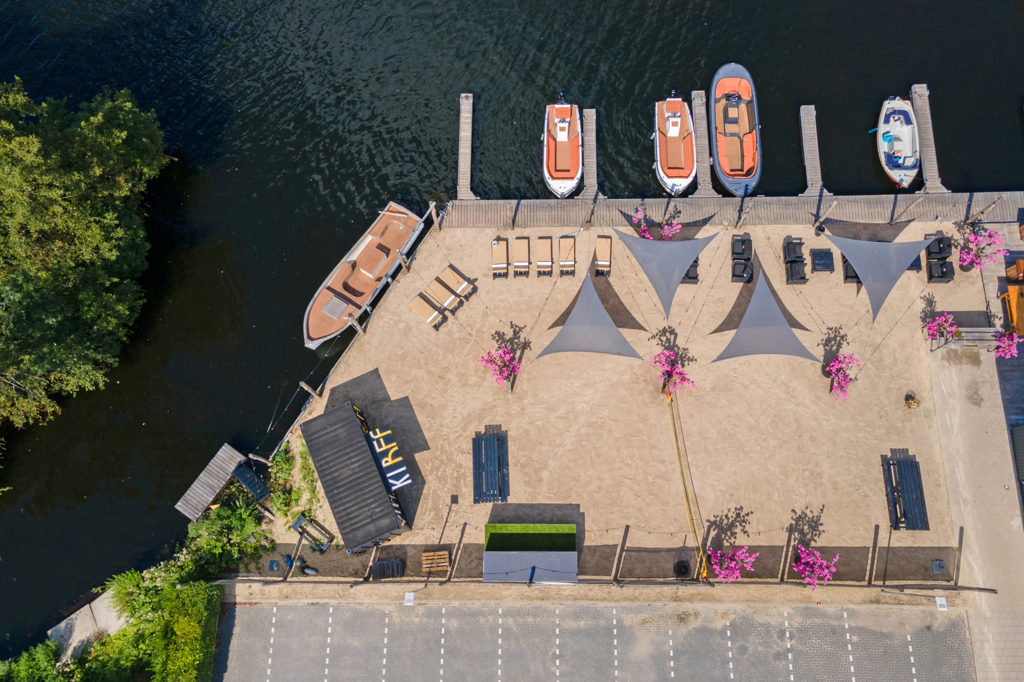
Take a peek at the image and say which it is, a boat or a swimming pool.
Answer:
boat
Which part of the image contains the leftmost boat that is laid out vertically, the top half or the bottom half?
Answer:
top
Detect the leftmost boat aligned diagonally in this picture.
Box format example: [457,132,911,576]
[302,201,423,349]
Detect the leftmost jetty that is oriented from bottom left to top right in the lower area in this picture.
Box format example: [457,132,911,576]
[176,444,248,522]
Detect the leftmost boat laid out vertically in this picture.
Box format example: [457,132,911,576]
[541,96,584,199]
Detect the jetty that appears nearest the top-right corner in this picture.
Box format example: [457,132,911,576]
[905,83,952,196]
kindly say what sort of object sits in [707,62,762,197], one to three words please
boat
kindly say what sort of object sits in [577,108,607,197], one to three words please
pier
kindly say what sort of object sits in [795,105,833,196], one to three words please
pier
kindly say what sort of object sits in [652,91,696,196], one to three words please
boat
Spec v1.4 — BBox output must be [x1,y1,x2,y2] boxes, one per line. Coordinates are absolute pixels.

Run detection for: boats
[707,62,762,197]
[868,95,919,190]
[652,91,696,196]
[302,201,423,349]
[541,96,584,199]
